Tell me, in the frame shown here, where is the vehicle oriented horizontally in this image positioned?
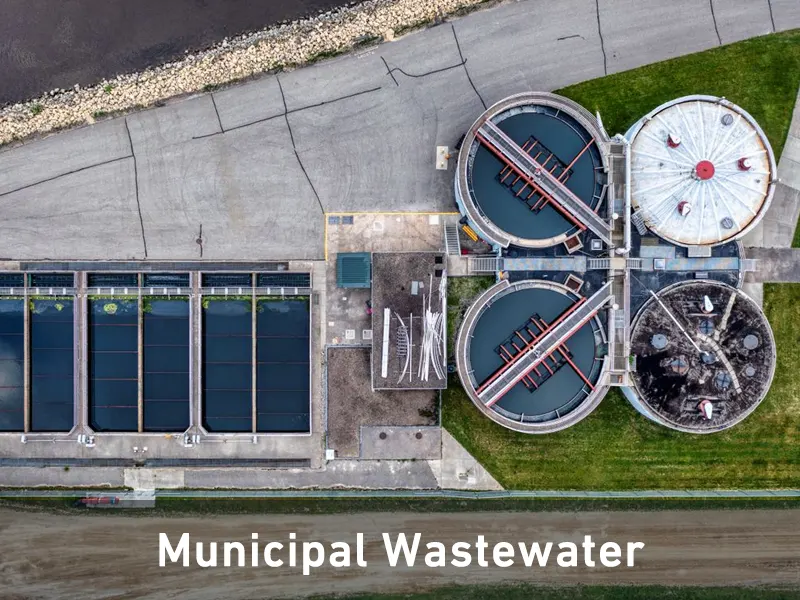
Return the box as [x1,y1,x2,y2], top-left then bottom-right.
[79,496,118,512]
